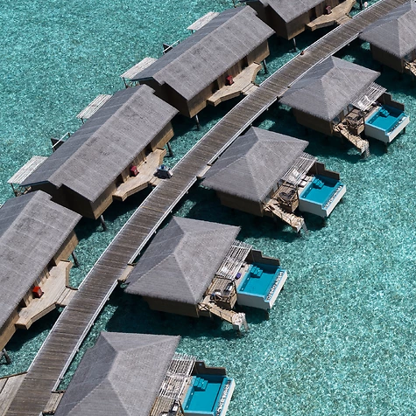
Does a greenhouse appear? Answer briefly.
No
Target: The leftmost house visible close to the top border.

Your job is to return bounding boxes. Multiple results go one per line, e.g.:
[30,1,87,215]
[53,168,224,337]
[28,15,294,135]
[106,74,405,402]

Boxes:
[121,5,275,134]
